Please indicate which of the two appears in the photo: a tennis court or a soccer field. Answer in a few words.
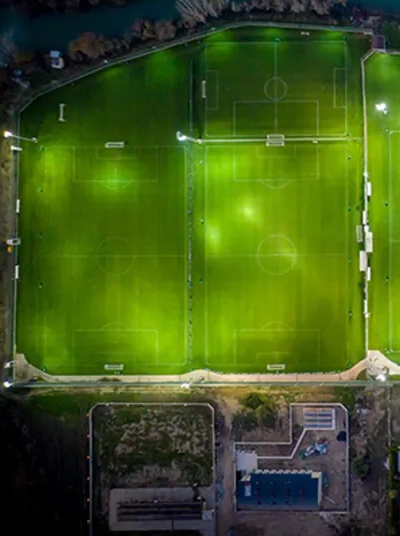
soccer field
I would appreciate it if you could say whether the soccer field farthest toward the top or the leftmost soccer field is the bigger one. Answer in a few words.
the leftmost soccer field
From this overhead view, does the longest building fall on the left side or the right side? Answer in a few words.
right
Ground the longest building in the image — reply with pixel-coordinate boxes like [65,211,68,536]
[238,469,322,509]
